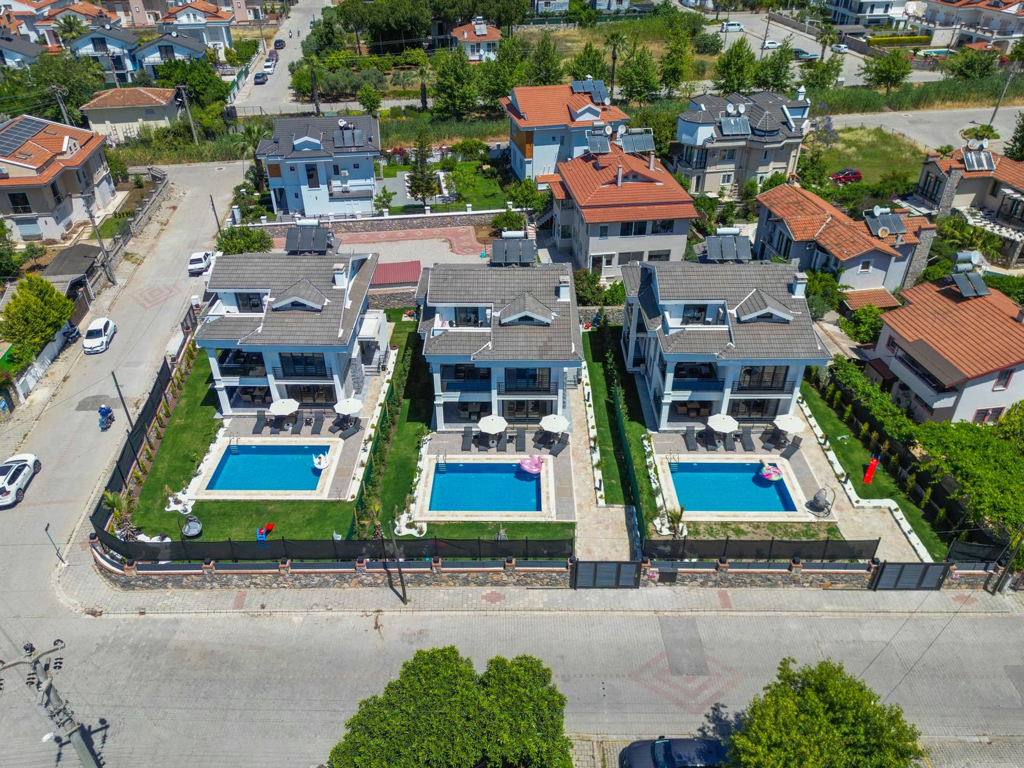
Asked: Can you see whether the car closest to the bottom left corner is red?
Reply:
No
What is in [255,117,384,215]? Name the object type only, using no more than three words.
house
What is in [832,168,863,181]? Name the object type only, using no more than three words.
vehicle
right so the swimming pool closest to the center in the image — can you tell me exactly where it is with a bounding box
[414,448,556,519]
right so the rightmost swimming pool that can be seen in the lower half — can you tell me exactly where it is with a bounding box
[656,448,816,519]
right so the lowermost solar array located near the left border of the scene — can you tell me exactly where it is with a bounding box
[0,111,61,149]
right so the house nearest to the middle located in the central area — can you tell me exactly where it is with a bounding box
[417,261,584,431]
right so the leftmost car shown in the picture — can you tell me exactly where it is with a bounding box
[0,455,39,501]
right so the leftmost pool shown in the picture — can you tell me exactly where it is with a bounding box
[188,431,345,498]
